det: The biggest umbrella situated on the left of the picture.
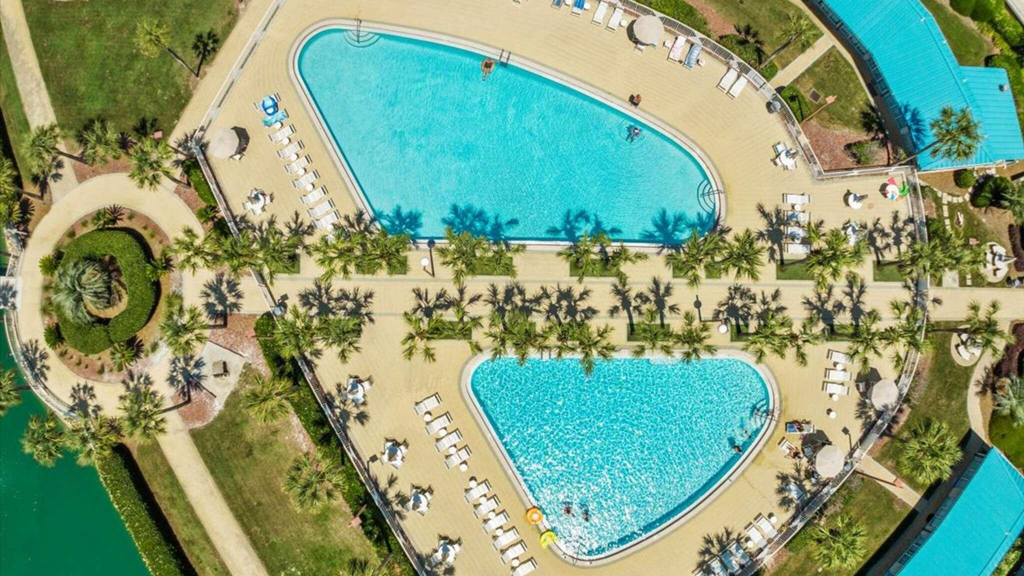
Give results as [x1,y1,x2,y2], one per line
[207,127,243,163]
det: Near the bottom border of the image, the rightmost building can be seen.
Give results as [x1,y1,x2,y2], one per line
[880,446,1024,576]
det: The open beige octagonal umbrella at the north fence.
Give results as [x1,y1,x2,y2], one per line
[631,14,665,48]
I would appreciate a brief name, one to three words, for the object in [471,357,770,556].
swimming pool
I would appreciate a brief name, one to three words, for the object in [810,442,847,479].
umbrella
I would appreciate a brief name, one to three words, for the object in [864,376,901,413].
umbrella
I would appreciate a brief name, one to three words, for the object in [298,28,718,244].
swimming pool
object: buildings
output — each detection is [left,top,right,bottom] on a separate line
[802,0,1024,171]
[880,446,1024,576]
